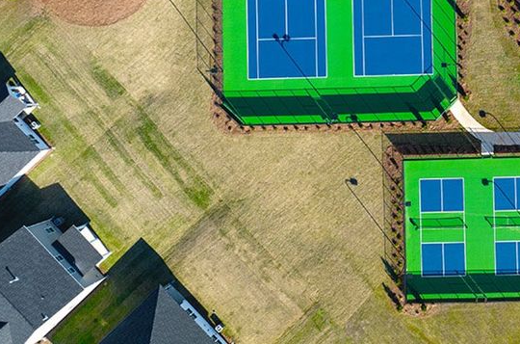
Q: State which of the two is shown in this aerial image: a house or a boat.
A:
house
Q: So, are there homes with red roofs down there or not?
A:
No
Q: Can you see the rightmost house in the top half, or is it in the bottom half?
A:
bottom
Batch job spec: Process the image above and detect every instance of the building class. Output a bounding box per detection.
[0,74,50,199]
[100,281,233,344]
[0,218,116,344]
